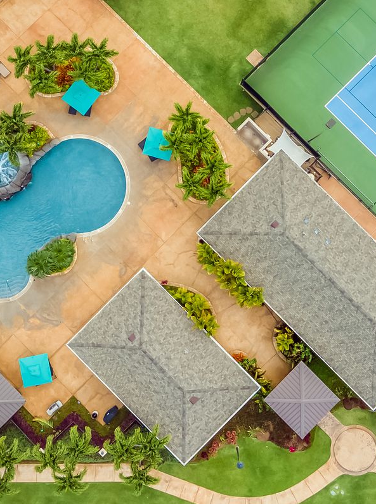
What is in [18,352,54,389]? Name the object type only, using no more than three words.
umbrella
